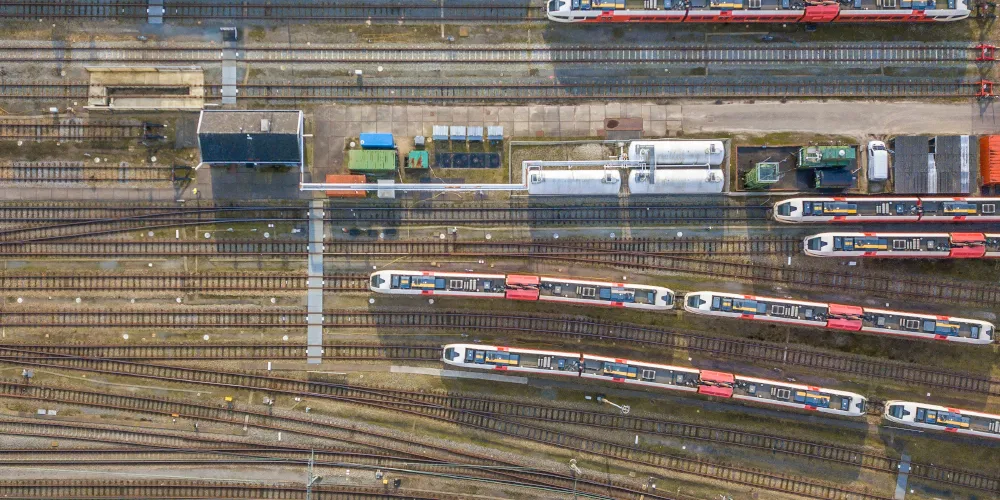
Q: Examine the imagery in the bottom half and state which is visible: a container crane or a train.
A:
train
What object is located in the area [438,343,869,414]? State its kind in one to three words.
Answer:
train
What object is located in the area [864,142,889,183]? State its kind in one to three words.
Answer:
vehicle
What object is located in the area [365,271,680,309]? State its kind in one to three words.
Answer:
train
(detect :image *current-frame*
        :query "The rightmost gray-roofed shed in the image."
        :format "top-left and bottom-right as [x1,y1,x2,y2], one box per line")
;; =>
[883,136,978,195]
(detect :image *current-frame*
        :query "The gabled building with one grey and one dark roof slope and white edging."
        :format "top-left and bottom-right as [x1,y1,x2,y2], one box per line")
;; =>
[195,108,309,170]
